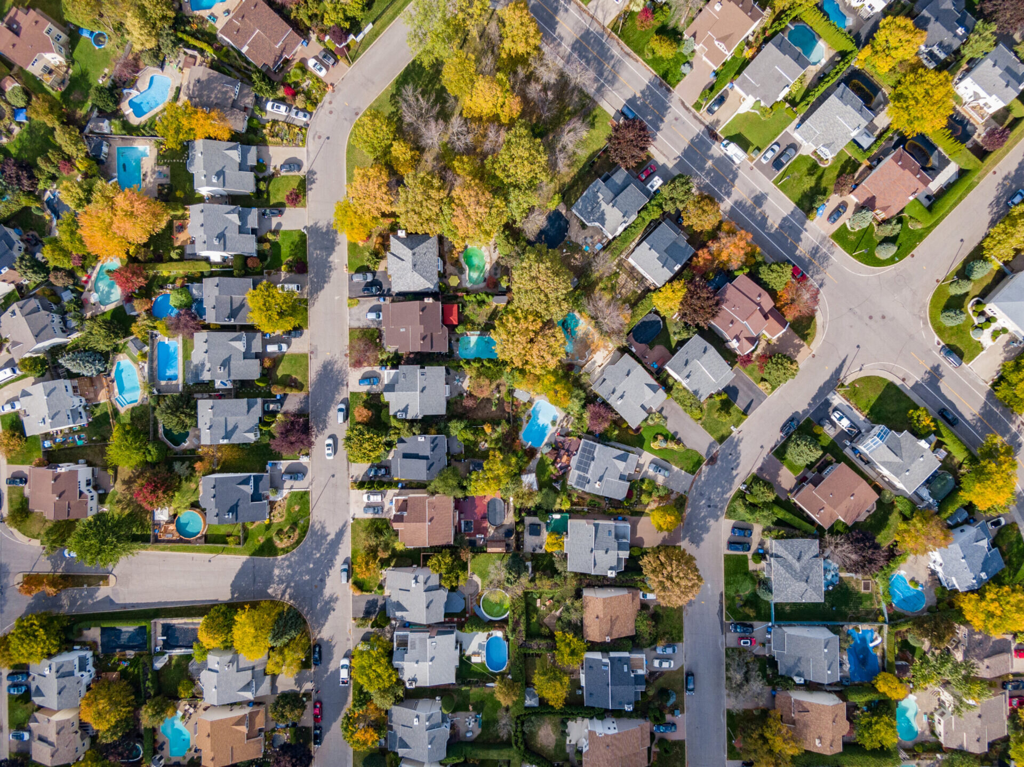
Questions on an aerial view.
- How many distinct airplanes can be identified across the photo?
none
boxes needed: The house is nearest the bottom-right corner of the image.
[922,693,1007,754]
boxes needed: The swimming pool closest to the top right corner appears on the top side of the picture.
[947,110,979,145]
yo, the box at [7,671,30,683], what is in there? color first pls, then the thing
blue vehicle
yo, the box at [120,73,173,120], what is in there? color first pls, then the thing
blue swimming pool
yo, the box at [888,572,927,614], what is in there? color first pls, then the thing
blue swimming pool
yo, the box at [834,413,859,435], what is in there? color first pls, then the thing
white vehicle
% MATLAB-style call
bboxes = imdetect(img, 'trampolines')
[92,32,108,48]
